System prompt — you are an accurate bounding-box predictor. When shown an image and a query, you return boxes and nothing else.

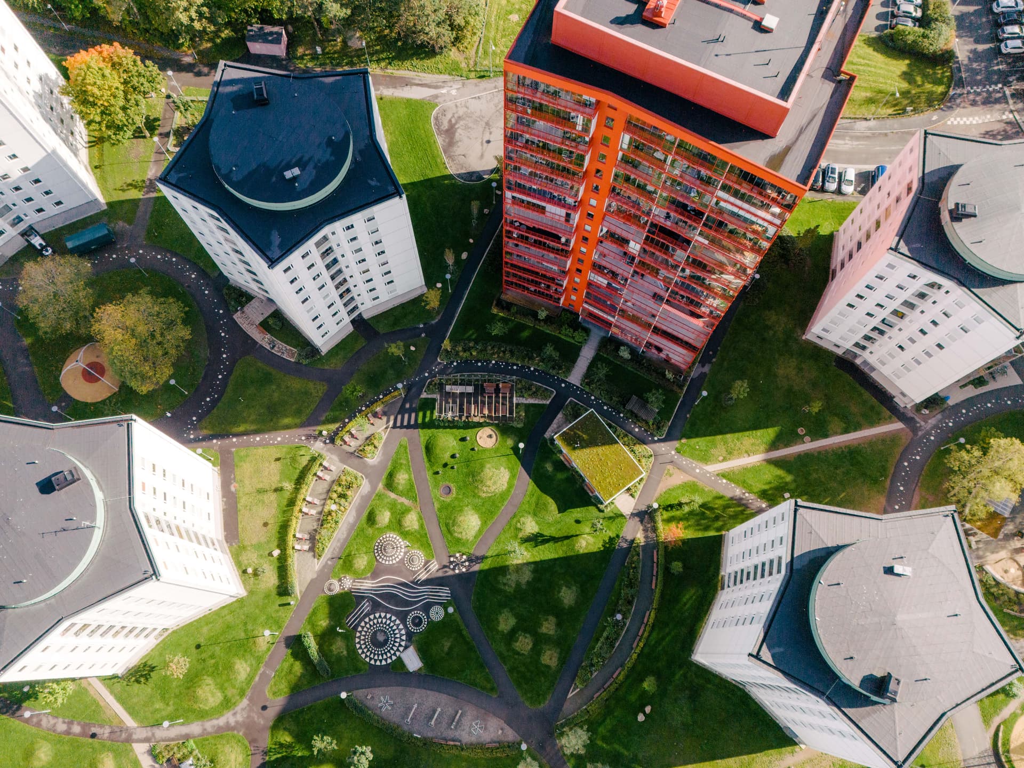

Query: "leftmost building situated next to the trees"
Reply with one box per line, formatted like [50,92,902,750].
[0,0,106,260]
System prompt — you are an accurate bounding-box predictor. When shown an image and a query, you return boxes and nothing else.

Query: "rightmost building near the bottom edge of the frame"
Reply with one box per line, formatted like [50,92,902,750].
[696,501,1022,767]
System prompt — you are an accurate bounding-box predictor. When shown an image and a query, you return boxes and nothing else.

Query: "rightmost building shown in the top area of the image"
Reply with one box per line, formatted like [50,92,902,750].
[808,131,1024,405]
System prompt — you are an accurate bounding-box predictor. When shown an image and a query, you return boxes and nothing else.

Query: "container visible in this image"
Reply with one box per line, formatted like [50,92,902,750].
[60,221,116,254]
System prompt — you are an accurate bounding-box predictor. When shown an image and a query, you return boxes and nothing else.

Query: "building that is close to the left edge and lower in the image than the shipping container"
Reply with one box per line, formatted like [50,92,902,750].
[0,418,239,673]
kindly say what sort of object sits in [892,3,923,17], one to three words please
car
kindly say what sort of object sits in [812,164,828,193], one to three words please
car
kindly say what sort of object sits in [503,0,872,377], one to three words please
building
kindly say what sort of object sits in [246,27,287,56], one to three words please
shed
